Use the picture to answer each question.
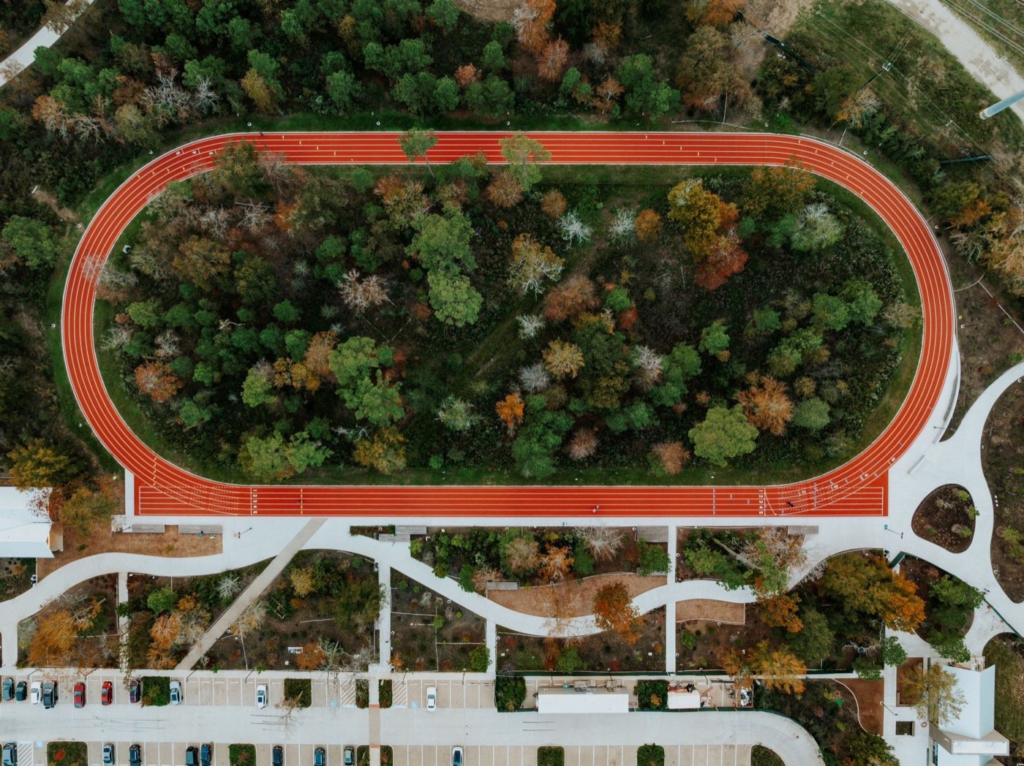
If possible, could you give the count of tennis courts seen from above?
zero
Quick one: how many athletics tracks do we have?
1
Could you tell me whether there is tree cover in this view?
Yes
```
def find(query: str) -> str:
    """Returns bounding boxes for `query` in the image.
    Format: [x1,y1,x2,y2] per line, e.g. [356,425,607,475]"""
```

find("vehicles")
[103,743,116,766]
[272,744,284,766]
[200,743,212,766]
[314,746,326,766]
[187,745,199,766]
[128,744,142,766]
[169,680,182,703]
[3,743,18,766]
[255,683,268,709]
[29,679,43,705]
[42,680,57,710]
[426,686,437,712]
[1,676,16,701]
[15,680,29,703]
[101,680,114,705]
[74,682,86,707]
[343,745,355,766]
[128,678,142,703]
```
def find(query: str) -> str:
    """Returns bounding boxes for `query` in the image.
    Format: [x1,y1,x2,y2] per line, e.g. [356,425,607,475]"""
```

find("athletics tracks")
[60,131,956,517]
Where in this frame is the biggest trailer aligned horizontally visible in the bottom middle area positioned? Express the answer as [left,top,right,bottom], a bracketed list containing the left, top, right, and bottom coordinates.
[540,686,630,715]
